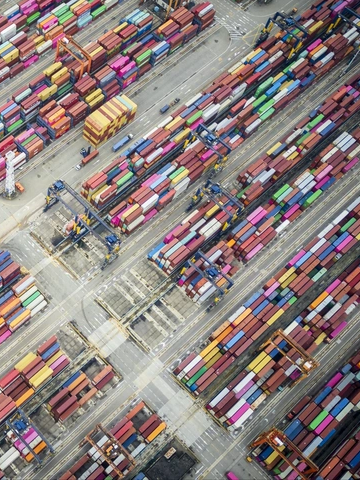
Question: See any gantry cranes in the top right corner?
Yes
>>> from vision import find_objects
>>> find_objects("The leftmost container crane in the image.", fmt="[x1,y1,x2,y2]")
[2,408,56,472]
